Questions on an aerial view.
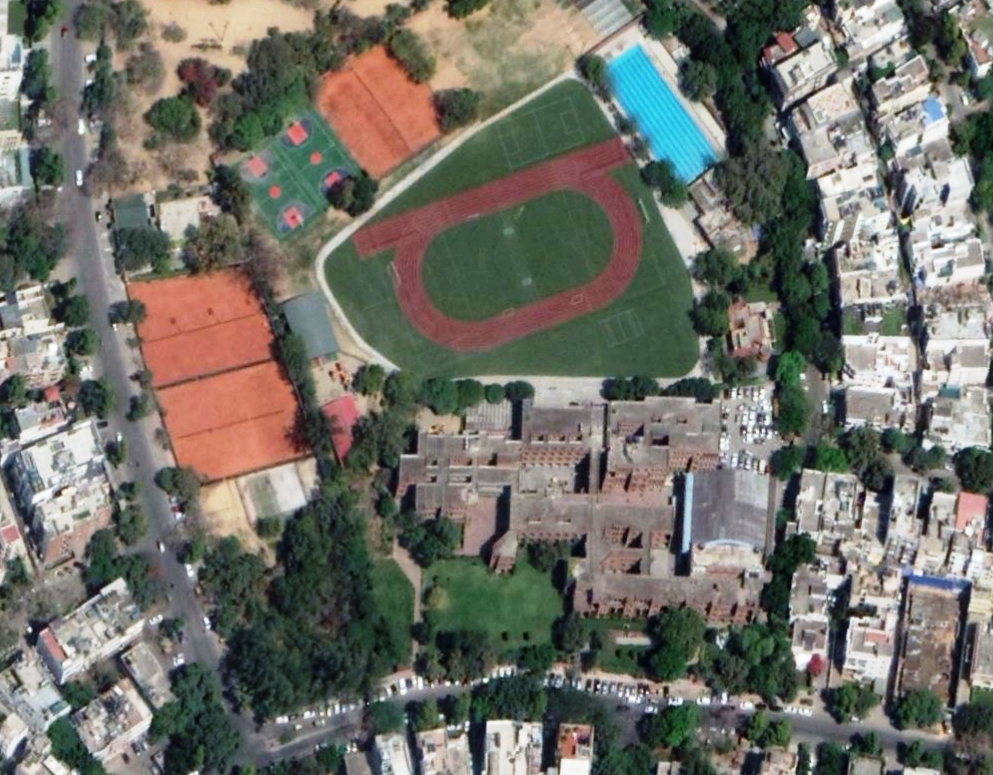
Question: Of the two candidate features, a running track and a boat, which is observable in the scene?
running track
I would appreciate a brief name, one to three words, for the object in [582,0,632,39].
shed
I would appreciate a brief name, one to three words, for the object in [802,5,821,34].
house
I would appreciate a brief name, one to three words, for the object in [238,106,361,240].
basketball court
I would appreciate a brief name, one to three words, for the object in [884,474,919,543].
house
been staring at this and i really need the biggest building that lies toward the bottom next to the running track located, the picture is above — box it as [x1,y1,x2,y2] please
[395,398,774,625]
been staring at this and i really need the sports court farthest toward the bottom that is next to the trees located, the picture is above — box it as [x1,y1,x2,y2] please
[239,464,303,524]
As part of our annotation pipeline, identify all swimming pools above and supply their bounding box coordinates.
[595,14,733,193]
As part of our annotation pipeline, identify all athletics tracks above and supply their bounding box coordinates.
[352,137,643,347]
